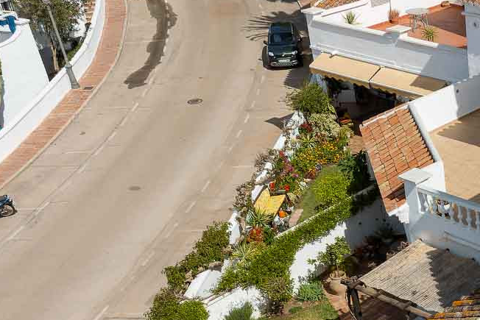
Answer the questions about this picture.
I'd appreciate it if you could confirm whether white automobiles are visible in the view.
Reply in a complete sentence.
No, there isn't any white automobile down there.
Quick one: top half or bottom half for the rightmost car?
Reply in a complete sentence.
The rightmost car sits in the top half of the picture.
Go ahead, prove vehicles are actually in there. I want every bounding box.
[257,8,300,62]
[0,192,17,216]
